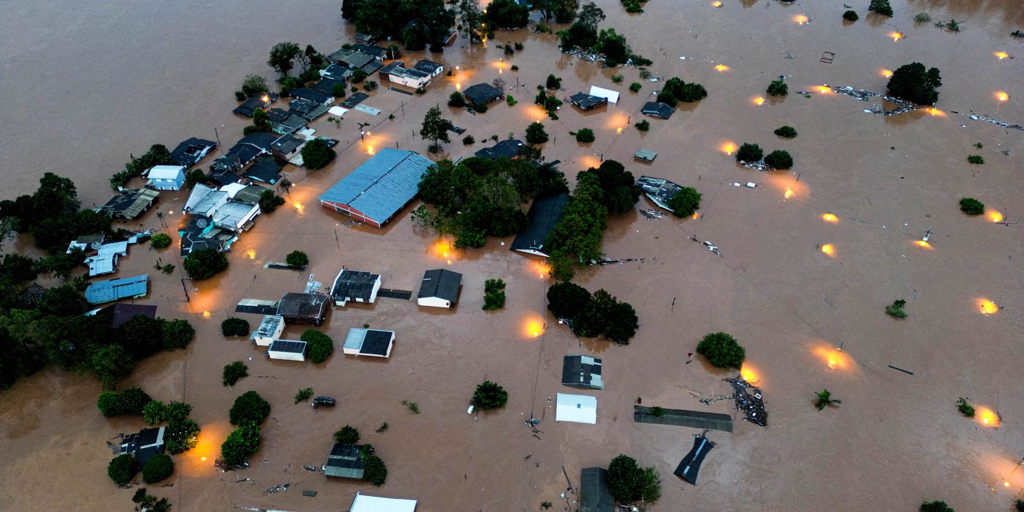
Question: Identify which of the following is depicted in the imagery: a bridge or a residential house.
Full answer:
There is a residential house in the scene.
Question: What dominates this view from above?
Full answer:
The largest share of the image is taken up by water.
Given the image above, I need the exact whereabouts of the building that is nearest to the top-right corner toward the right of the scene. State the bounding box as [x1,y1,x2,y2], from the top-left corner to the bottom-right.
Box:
[641,102,675,120]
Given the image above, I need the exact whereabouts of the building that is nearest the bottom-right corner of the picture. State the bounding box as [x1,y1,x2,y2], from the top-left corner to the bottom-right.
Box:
[634,405,733,433]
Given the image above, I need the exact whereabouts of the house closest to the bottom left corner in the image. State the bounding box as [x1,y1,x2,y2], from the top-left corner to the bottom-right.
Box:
[136,427,167,451]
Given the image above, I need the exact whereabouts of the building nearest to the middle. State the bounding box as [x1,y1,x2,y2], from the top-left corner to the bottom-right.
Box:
[510,193,566,259]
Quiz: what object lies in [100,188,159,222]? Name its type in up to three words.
building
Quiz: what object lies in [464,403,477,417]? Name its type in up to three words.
vehicle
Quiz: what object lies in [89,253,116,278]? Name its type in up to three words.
house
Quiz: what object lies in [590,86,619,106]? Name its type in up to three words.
building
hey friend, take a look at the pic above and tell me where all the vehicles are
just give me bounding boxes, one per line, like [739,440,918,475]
[313,398,336,408]
[464,403,477,417]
